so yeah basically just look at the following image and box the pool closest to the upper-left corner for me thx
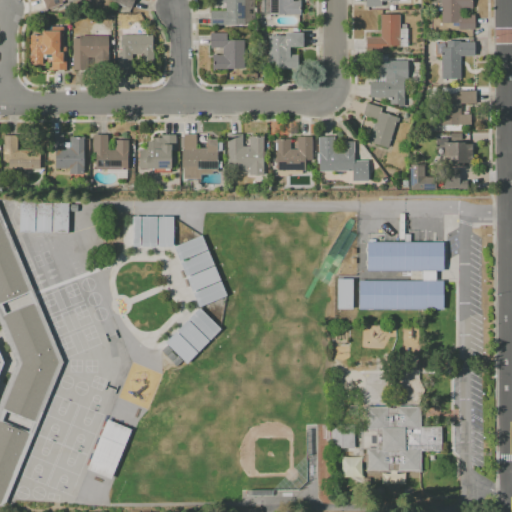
[94,172,118,184]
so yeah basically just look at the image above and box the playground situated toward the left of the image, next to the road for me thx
[0,200,163,503]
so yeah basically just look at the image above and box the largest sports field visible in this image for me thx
[110,212,333,502]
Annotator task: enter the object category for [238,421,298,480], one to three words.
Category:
baseball field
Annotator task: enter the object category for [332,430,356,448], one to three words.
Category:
building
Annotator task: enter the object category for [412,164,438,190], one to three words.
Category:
house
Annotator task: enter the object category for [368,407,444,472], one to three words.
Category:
building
